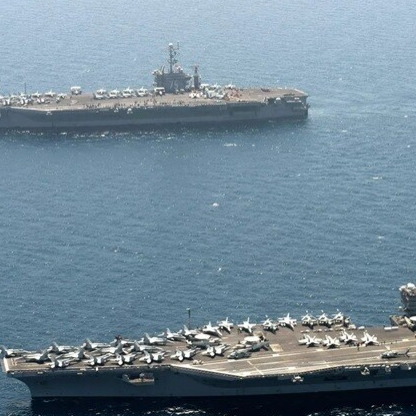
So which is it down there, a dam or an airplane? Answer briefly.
airplane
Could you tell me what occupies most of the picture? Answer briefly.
water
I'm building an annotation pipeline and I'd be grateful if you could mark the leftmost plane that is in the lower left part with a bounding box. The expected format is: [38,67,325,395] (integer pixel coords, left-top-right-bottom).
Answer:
[0,344,31,358]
